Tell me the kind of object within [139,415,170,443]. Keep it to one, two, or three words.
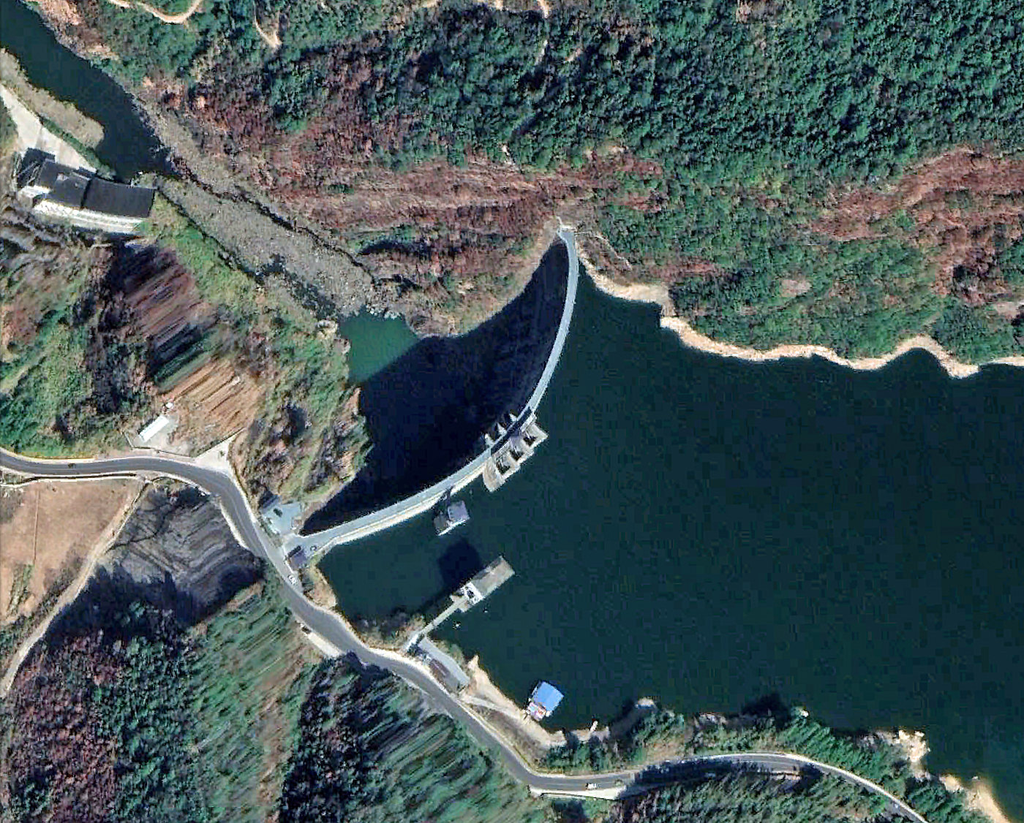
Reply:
shed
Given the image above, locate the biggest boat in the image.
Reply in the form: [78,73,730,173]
[527,681,565,721]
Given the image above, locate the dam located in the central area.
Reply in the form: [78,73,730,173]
[303,232,579,556]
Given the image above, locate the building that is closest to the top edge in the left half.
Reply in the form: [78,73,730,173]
[19,159,157,223]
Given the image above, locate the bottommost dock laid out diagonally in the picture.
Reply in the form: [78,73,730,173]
[417,556,515,636]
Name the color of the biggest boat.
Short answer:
blue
